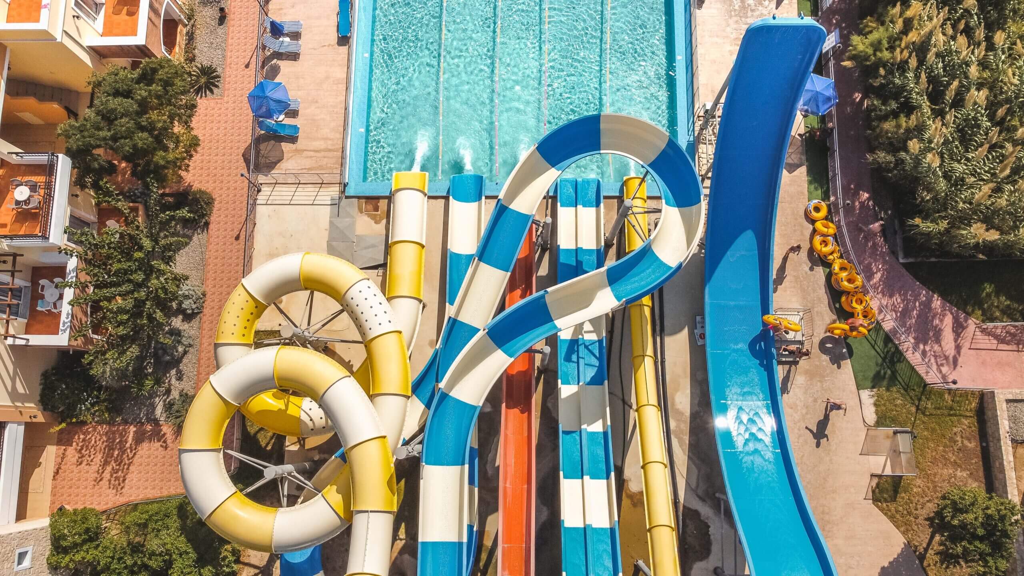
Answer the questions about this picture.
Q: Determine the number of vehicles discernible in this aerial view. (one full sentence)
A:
There are no vehicles in the image.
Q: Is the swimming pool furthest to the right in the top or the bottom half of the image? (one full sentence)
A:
You can find the swimming pool furthest to the right in the top half.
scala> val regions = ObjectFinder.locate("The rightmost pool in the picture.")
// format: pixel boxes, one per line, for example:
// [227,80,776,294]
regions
[366,0,677,181]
